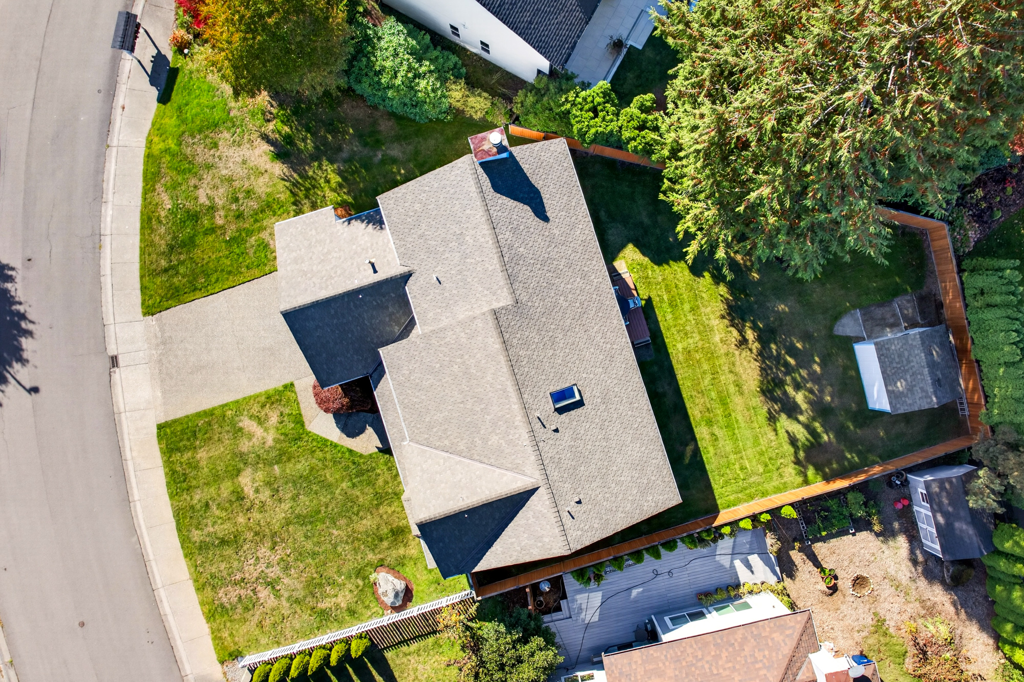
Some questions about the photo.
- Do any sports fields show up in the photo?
No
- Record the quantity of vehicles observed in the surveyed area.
0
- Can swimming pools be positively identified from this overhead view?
No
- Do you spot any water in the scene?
No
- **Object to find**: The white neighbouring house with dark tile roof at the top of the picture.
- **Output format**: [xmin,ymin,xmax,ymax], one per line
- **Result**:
[380,0,599,92]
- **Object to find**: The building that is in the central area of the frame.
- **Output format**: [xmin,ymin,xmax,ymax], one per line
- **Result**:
[274,125,684,581]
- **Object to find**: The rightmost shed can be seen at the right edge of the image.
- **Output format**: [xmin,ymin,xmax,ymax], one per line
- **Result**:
[909,464,1005,563]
